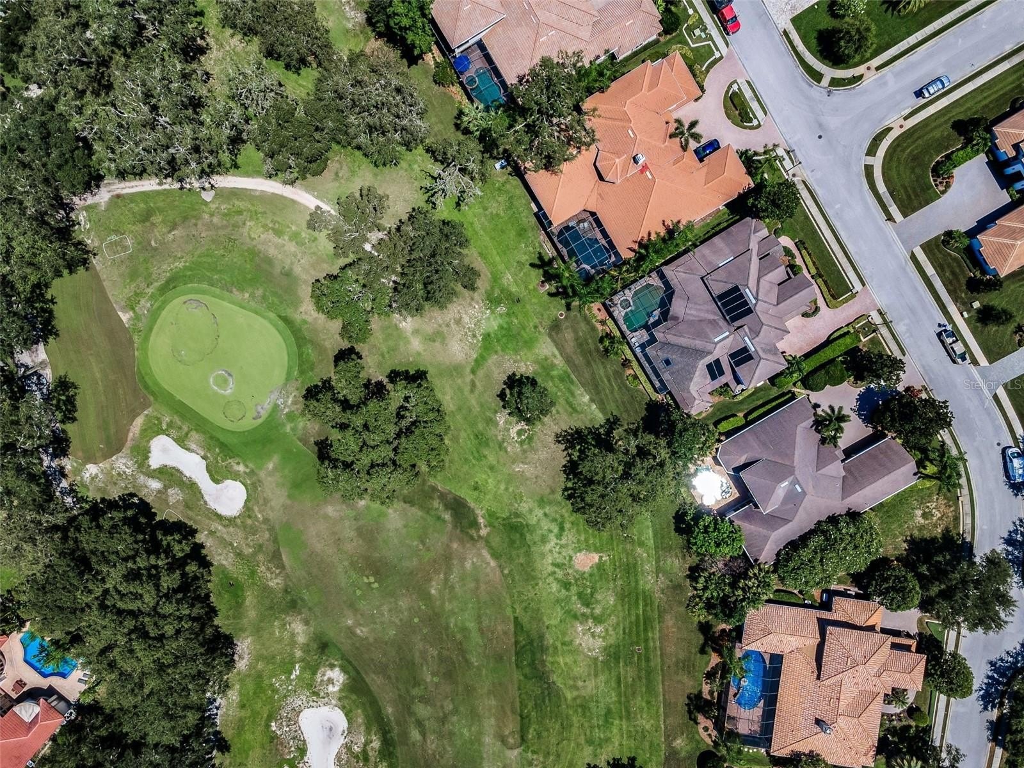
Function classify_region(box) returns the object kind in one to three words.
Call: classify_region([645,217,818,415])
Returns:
house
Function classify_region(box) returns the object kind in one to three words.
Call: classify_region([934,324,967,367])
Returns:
truck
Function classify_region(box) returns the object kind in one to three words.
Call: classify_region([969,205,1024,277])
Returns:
house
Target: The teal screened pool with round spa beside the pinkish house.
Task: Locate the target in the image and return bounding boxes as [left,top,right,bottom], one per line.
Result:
[465,66,507,105]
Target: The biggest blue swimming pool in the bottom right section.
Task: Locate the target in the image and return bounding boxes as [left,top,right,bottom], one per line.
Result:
[731,650,767,711]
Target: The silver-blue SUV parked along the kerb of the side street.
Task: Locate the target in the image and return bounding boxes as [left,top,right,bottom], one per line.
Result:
[910,74,952,104]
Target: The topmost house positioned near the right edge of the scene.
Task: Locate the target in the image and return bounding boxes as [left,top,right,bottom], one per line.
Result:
[981,110,1024,200]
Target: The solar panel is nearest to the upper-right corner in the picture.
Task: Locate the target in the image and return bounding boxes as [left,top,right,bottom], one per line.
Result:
[716,284,754,323]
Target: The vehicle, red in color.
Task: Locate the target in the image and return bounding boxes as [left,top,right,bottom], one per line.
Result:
[715,4,741,39]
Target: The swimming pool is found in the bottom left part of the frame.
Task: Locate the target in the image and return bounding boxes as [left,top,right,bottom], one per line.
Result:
[20,632,72,679]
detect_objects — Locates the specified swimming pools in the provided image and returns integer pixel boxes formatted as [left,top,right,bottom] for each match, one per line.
[618,283,666,333]
[465,66,507,105]
[691,465,733,506]
[20,632,72,679]
[556,224,612,284]
[731,650,767,711]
